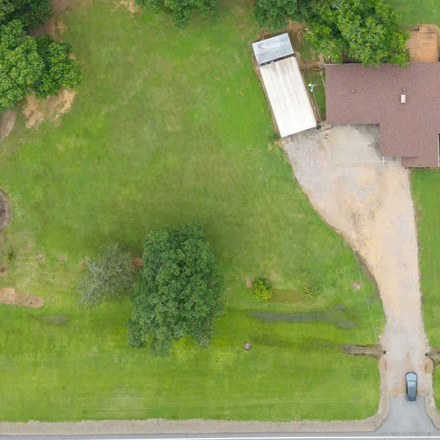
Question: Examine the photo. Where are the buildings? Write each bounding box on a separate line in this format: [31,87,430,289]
[325,61,440,167]
[252,33,294,65]
[260,56,316,138]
